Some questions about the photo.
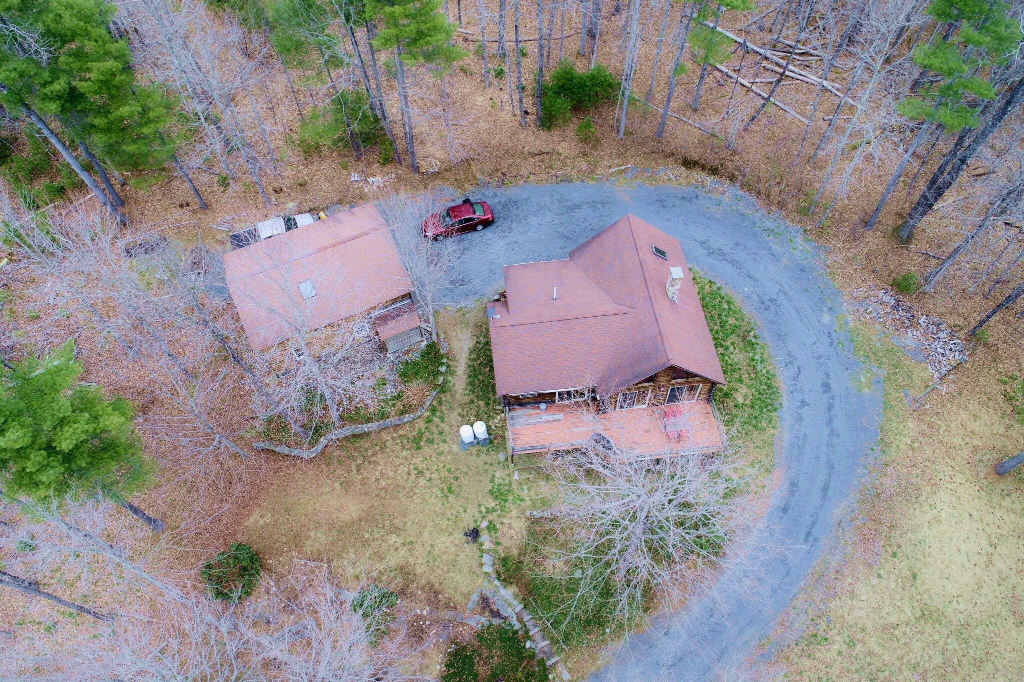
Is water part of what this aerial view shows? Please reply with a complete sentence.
No, the scene doesn't show any water.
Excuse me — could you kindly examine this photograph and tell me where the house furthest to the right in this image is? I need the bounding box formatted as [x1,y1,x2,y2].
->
[488,212,727,417]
